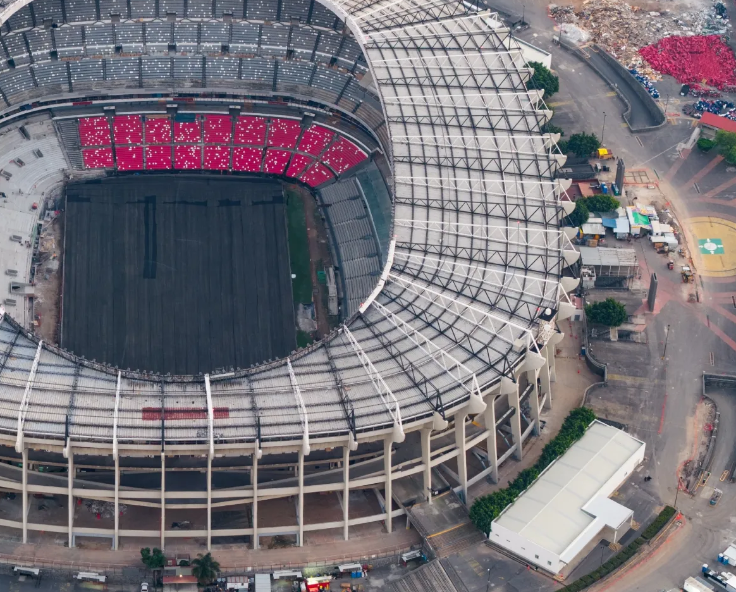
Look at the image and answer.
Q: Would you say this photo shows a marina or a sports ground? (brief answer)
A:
sports ground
